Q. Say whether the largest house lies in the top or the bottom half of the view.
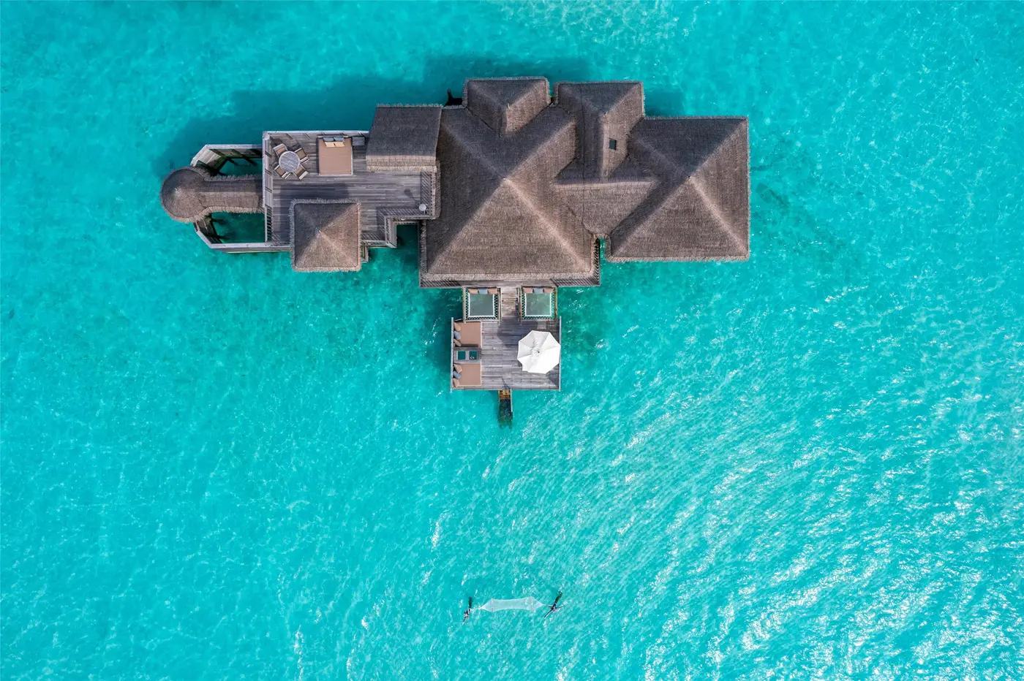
top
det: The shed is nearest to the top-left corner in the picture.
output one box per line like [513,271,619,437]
[159,163,271,225]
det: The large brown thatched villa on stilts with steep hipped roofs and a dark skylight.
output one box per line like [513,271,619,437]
[419,74,753,287]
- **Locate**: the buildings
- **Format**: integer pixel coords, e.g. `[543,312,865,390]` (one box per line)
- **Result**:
[159,163,271,225]
[419,74,753,287]
[287,197,364,273]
